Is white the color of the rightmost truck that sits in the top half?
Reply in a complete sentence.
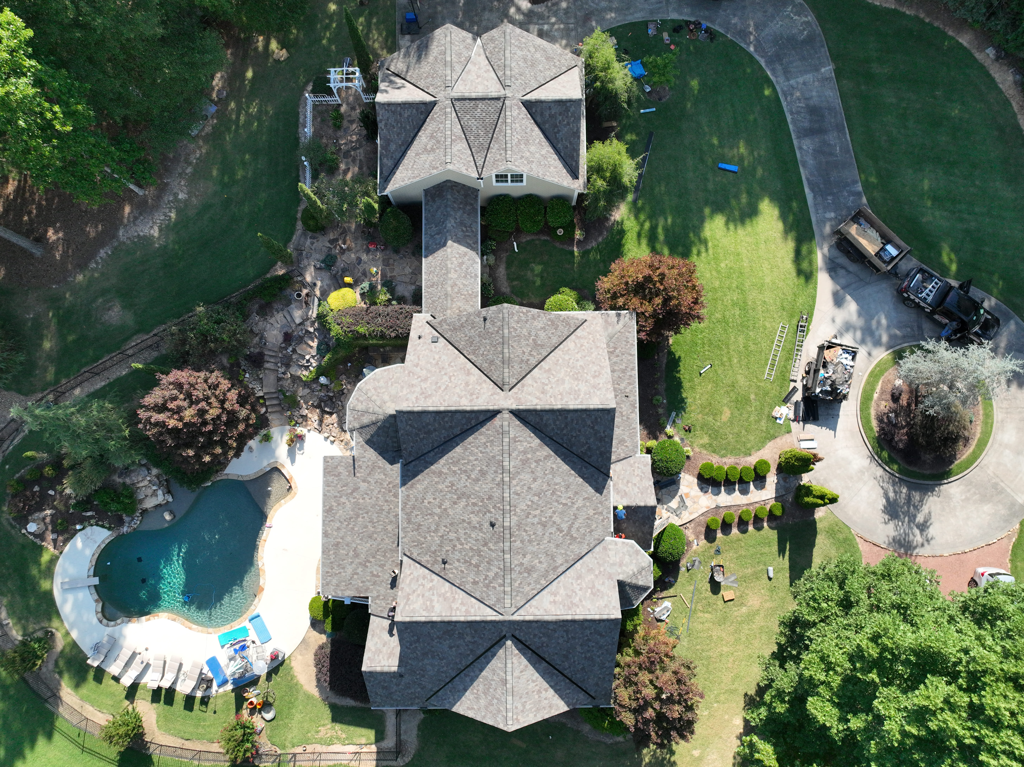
No, from above the rightmost truck that sits in the top half looks black.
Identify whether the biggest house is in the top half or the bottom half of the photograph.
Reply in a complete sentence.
The biggest house is in the bottom half of the image.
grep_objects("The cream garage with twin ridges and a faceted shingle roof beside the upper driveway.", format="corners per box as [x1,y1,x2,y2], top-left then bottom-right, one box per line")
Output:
[373,23,586,204]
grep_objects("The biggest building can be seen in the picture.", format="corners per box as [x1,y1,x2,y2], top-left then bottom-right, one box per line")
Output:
[321,300,657,736]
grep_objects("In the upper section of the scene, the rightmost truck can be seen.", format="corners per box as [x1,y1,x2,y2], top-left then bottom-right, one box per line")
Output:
[894,263,999,344]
